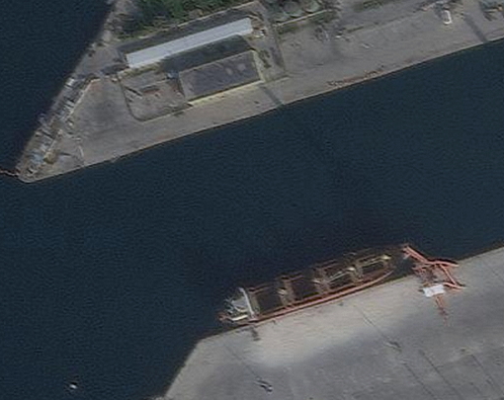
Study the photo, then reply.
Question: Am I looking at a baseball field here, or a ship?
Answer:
ship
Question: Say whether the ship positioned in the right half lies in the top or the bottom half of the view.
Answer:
bottom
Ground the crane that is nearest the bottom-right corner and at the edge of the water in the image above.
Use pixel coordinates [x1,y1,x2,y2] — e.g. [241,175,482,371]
[400,243,468,321]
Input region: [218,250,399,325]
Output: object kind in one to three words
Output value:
ship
